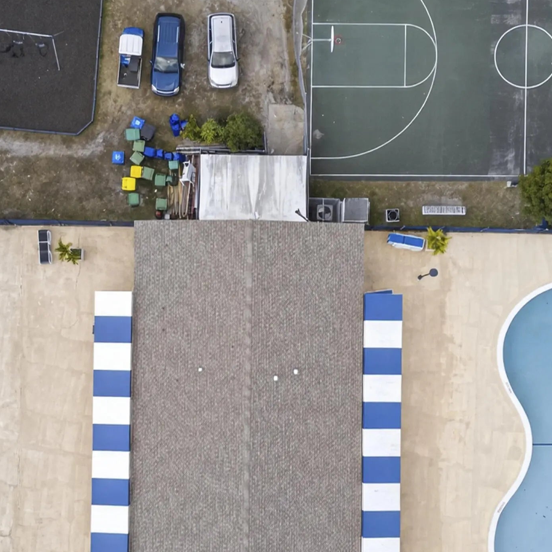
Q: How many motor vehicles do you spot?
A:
three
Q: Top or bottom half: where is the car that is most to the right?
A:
top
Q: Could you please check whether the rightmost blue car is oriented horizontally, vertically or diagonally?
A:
vertically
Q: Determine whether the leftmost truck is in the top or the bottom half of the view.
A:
top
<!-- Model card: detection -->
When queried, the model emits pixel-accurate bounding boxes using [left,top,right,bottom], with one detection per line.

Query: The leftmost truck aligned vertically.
[115,25,147,91]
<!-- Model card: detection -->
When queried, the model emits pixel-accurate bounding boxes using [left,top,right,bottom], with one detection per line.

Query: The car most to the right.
[205,11,242,90]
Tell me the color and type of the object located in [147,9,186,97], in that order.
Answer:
blue car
